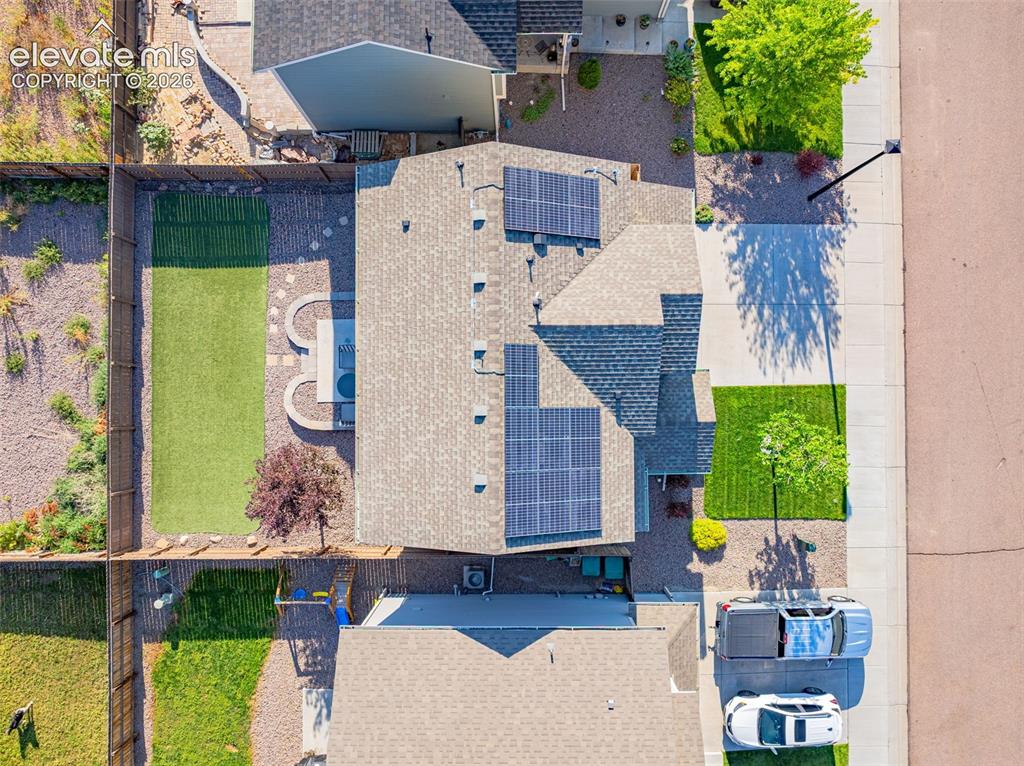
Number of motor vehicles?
2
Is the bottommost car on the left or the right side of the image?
right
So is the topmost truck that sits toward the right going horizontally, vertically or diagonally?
horizontally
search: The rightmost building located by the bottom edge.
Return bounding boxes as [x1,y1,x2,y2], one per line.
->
[328,571,704,766]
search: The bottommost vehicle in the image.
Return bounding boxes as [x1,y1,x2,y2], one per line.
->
[724,688,843,756]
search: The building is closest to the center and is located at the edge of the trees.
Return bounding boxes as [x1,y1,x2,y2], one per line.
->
[358,143,715,554]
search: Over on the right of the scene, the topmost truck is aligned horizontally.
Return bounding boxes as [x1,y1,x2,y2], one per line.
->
[706,598,871,668]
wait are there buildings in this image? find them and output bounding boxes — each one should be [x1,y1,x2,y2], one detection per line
[328,571,704,766]
[253,0,665,137]
[358,143,715,554]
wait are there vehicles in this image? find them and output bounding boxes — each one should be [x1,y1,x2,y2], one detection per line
[724,688,843,756]
[706,598,871,668]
